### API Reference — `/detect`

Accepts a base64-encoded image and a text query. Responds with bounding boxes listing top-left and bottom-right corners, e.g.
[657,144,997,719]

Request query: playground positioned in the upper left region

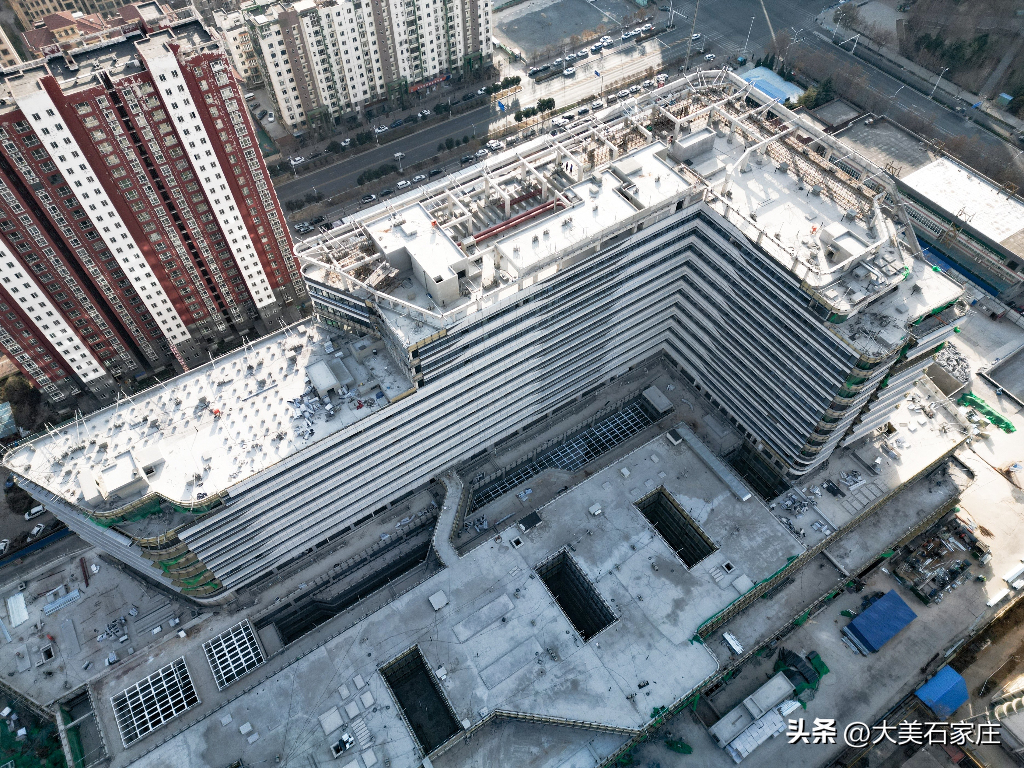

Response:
[247,116,276,159]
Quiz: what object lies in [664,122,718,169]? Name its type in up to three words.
water tank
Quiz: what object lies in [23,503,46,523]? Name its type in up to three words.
car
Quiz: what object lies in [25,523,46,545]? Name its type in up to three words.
car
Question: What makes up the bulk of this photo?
buildings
